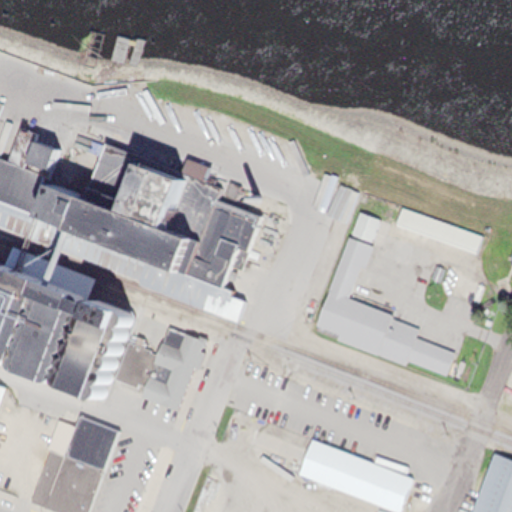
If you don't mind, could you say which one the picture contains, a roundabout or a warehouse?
warehouse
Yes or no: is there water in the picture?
Yes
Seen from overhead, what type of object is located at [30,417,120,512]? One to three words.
building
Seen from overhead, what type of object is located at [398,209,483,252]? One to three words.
shed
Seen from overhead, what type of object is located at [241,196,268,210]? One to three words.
chimney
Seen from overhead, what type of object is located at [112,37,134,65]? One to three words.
pier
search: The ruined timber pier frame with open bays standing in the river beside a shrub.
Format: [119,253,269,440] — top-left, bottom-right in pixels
[84,30,108,68]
